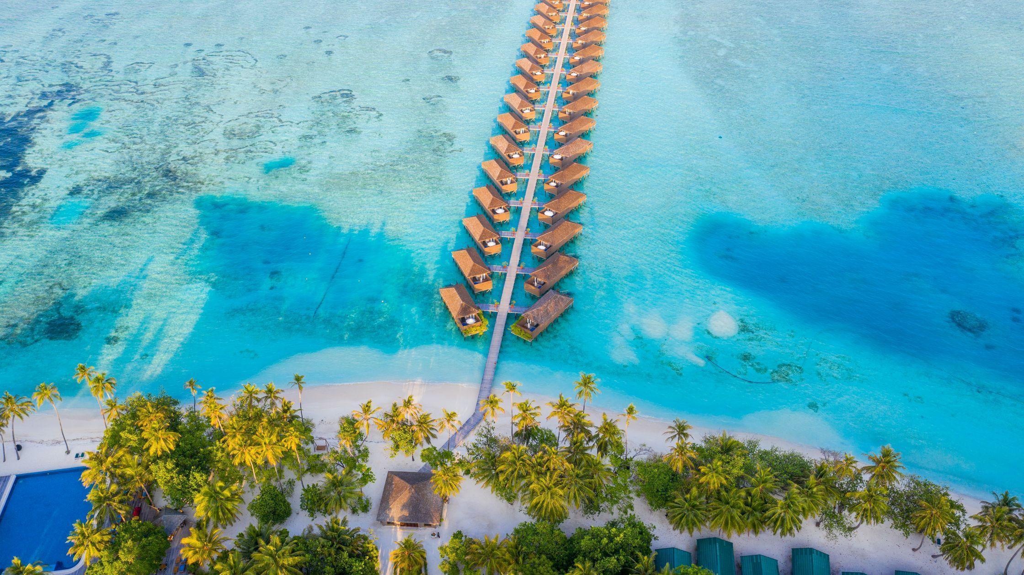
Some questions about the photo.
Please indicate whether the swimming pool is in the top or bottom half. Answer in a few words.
bottom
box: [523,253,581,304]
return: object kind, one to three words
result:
house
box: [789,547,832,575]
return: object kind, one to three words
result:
shed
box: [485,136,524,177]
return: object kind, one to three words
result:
house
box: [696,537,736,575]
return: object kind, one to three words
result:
shed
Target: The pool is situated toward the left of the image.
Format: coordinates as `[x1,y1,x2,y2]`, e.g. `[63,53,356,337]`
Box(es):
[0,465,108,575]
